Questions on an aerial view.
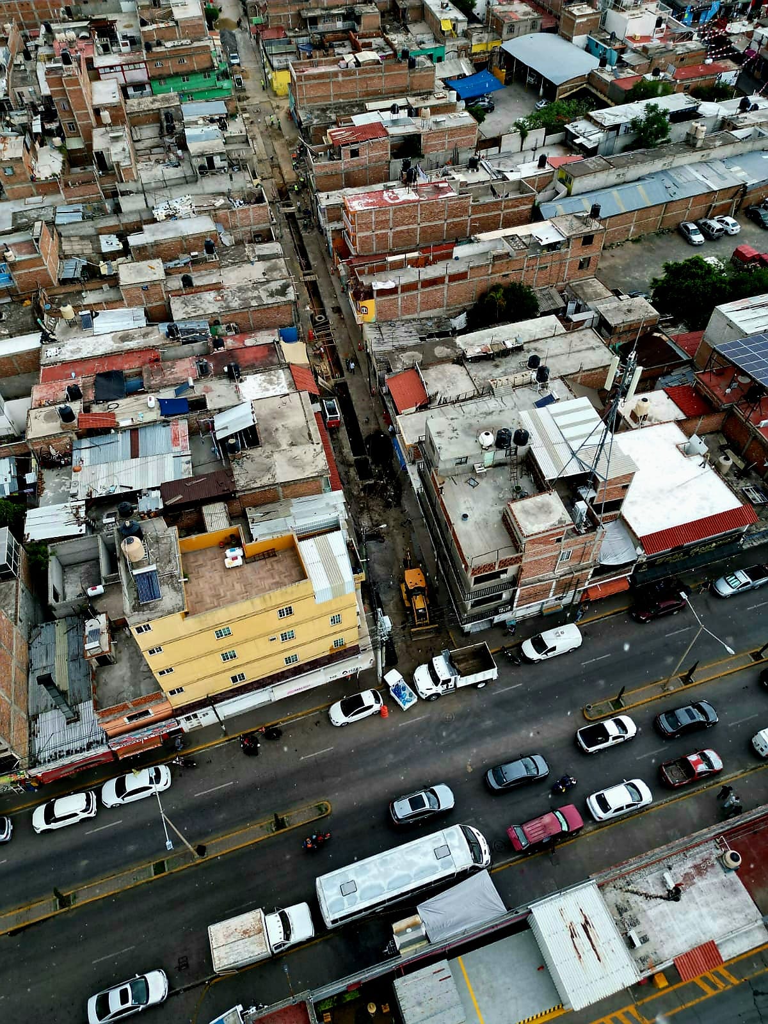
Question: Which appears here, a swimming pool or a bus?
bus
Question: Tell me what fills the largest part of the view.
buildings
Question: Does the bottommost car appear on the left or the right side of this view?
left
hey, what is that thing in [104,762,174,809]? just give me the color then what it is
white car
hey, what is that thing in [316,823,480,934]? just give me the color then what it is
white bus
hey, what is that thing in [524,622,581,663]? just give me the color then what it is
white van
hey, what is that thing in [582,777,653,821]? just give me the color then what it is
white car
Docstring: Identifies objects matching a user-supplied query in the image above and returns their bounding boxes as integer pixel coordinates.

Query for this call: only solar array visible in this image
[704,320,768,399]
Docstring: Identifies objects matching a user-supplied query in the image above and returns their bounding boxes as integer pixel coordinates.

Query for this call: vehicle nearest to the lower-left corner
[85,966,171,1024]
